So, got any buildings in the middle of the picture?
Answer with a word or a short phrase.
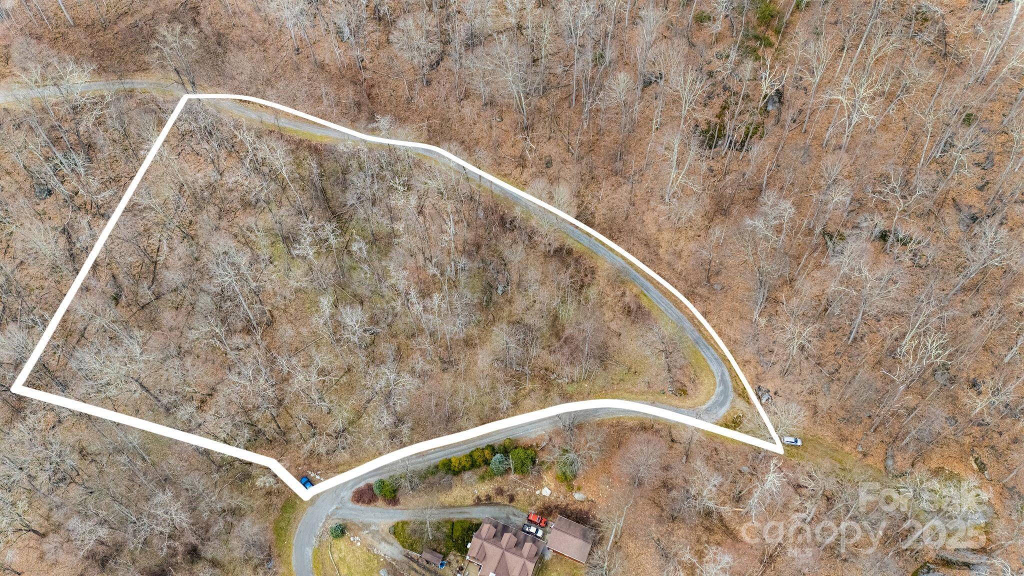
No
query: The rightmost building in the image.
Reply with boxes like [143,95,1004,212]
[547,515,597,566]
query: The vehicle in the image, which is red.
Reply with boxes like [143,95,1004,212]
[528,512,547,527]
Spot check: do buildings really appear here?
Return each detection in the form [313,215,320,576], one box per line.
[420,548,444,567]
[547,515,597,566]
[462,517,546,576]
